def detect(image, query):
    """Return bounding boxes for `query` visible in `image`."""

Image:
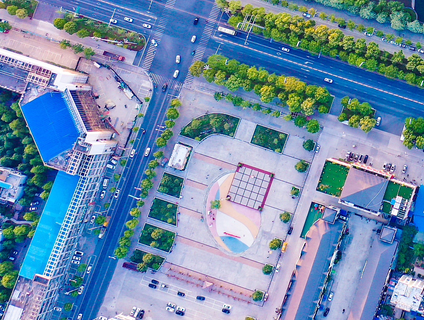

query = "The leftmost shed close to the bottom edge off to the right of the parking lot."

[281,219,349,320]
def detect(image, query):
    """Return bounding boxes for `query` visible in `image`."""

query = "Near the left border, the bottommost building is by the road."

[2,274,69,320]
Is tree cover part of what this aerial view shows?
Yes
